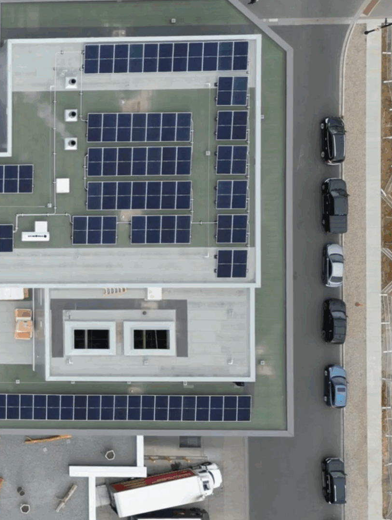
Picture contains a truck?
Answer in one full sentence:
Yes, the image includes a truck.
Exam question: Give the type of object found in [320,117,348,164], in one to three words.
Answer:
car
